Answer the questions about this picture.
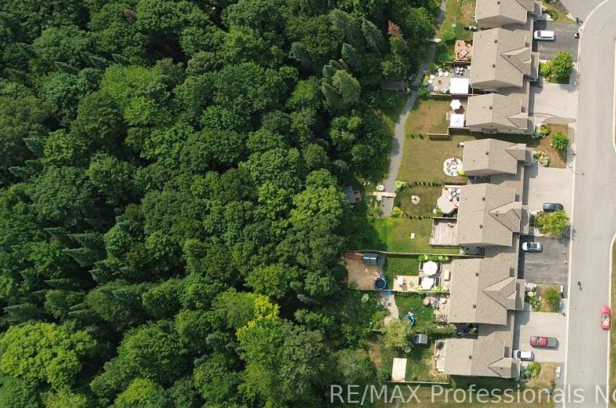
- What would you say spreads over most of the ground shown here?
trees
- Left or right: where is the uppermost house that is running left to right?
right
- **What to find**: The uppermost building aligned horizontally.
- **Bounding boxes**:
[476,0,542,32]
